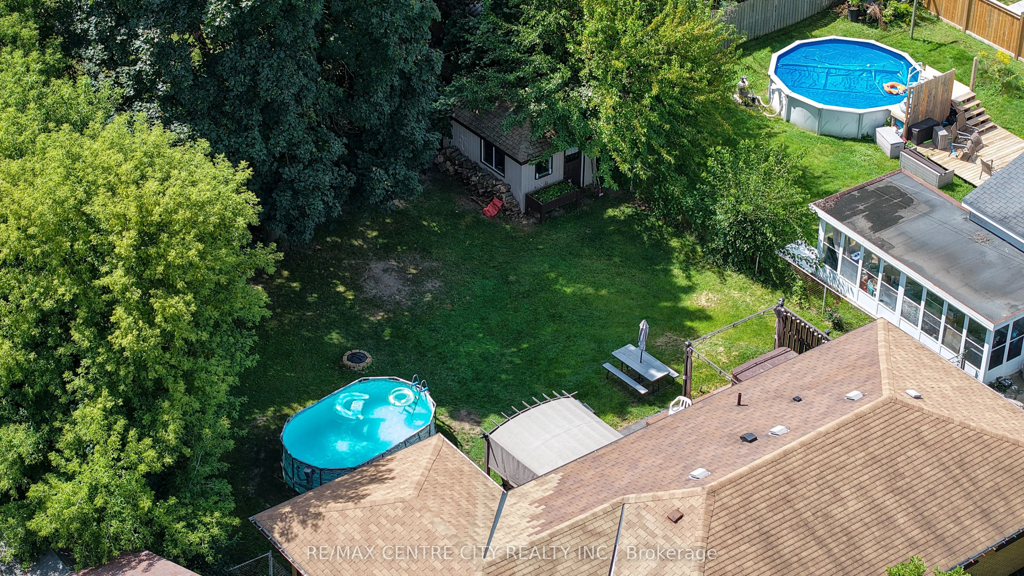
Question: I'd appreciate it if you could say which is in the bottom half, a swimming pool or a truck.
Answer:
swimming pool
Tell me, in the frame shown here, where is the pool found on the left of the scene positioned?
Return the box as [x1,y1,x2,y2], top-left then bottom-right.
[279,375,440,491]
